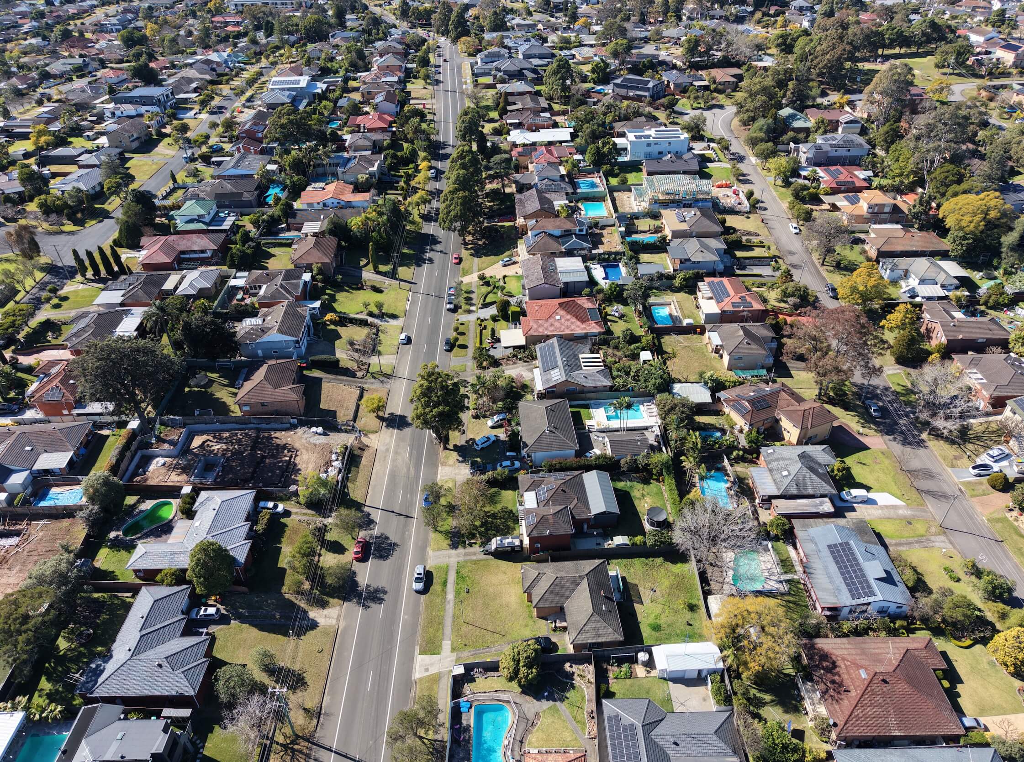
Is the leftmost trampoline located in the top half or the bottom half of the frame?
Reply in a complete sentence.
The bottom half of the photo is where the leftmost trampoline is.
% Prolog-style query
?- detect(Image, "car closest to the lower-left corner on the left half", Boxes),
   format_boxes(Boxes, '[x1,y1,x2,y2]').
[188,605,223,624]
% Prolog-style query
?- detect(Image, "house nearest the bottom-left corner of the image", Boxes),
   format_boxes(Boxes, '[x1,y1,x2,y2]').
[58,702,173,762]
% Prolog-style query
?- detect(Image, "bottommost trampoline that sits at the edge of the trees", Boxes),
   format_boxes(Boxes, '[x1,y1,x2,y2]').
[70,624,95,646]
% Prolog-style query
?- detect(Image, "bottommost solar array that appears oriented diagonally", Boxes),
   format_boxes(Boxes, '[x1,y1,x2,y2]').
[830,541,877,599]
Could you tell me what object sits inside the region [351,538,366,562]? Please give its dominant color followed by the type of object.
red car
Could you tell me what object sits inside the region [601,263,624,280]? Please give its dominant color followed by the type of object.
blue swimming pool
